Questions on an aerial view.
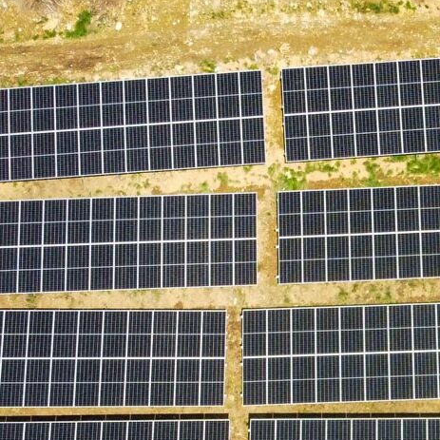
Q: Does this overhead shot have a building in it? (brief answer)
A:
No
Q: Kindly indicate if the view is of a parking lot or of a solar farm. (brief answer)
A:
solar farm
